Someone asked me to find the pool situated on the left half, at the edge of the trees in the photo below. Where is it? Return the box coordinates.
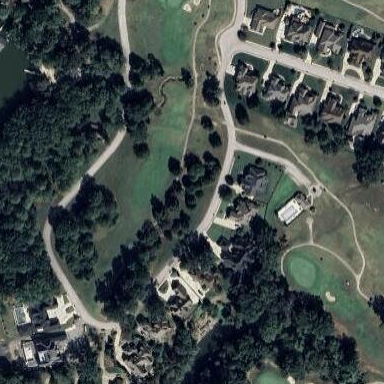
[13,305,29,324]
